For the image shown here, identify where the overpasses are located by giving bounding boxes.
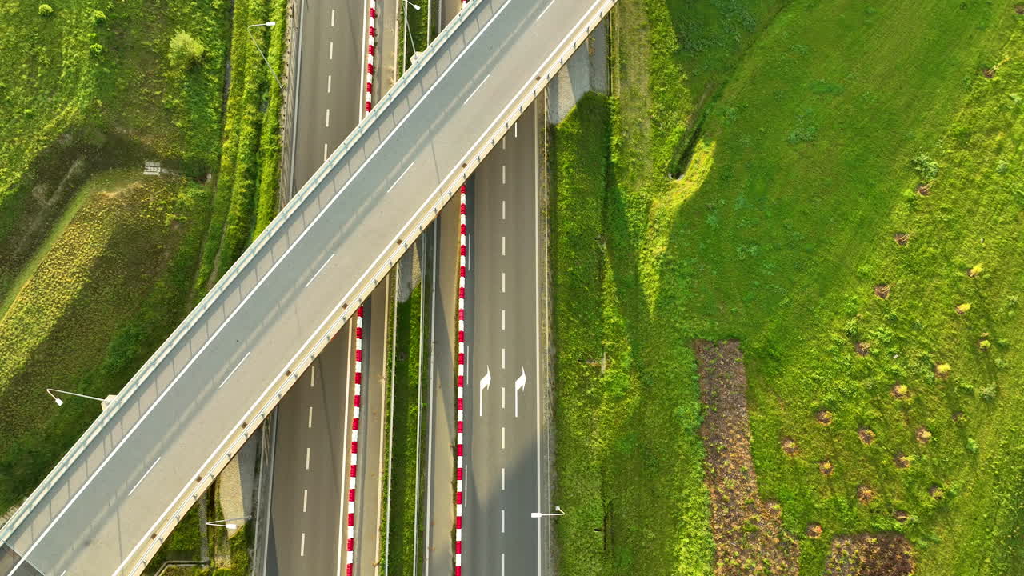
[0,0,619,576]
